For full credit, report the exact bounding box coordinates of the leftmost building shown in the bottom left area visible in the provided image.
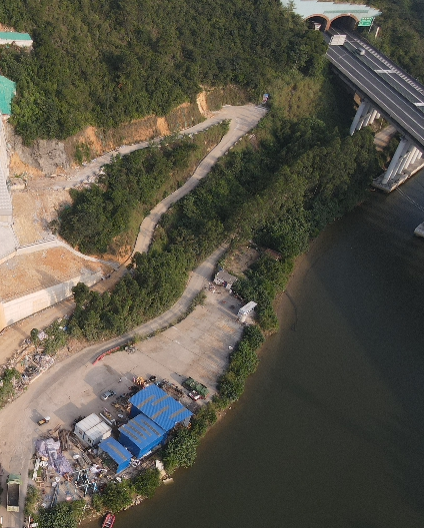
[76,413,110,448]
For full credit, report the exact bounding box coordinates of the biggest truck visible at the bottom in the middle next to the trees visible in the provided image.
[180,372,215,398]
